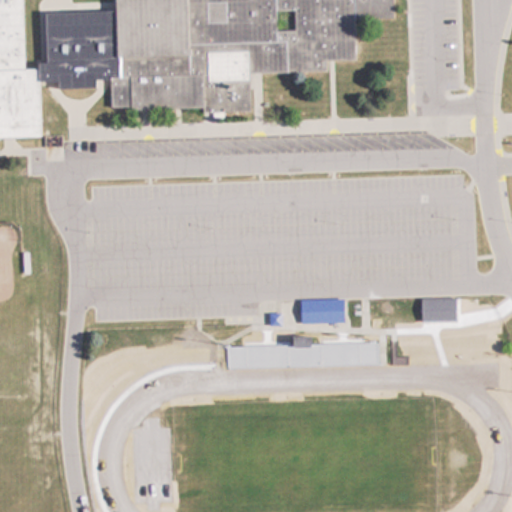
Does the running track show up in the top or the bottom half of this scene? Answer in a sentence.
The running track sits in the bottom half of the picture.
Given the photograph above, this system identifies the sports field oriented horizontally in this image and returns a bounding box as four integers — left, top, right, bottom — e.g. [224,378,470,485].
[159,395,483,512]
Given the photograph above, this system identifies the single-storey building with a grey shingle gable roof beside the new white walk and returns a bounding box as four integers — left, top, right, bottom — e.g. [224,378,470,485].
[422,299,457,322]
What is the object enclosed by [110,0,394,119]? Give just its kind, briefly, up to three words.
building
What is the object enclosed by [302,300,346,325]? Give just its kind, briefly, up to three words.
building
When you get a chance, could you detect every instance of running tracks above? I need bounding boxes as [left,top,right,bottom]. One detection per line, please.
[98,362,512,512]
